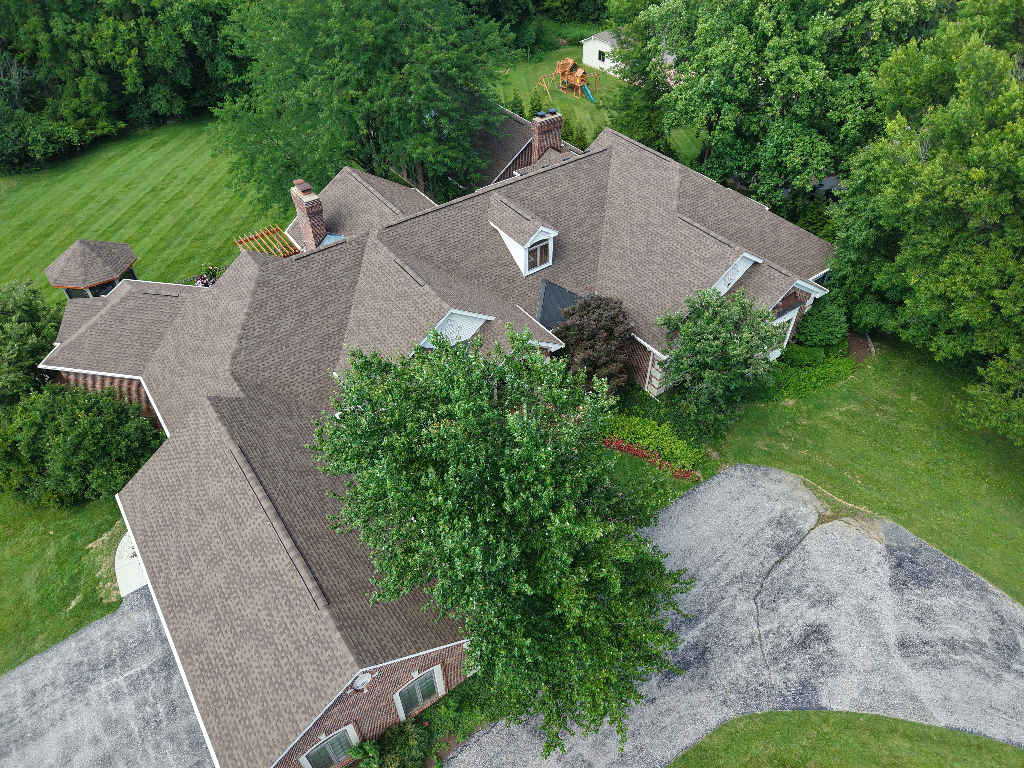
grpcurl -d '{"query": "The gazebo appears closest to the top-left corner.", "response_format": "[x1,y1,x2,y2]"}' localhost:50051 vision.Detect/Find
[46,239,141,301]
